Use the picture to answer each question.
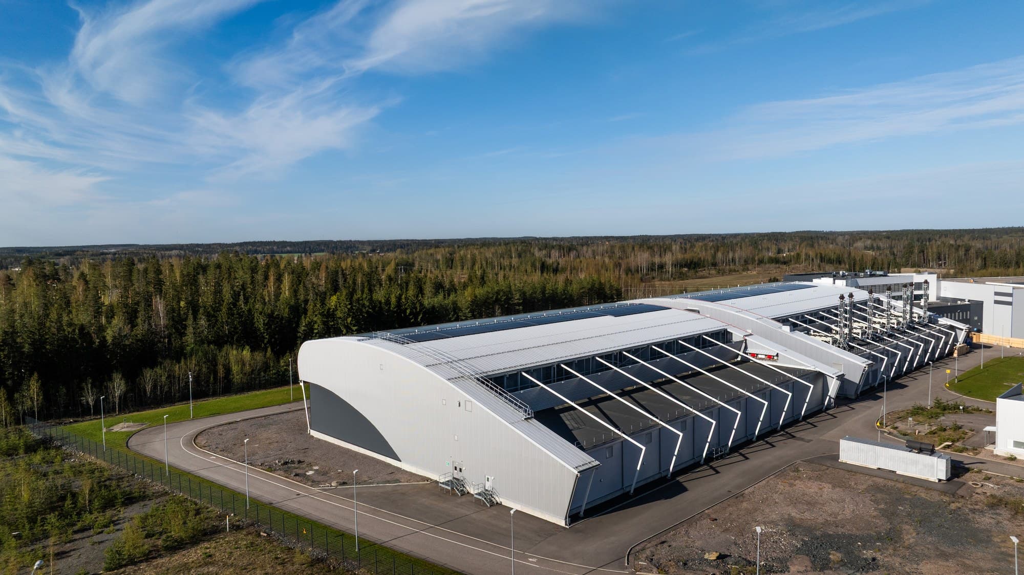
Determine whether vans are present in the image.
No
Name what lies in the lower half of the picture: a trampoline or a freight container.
freight container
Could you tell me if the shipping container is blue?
No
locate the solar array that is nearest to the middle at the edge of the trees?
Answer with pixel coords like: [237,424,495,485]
[396,305,672,341]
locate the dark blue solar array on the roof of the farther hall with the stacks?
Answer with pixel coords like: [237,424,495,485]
[691,285,825,302]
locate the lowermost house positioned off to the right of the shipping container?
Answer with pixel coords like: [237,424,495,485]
[978,369,1024,459]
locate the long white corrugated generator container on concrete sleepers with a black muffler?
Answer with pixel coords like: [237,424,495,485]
[837,436,950,480]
